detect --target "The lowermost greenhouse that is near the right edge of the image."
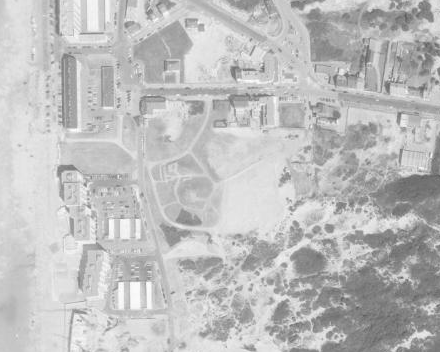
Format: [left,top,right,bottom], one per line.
[402,150,429,168]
